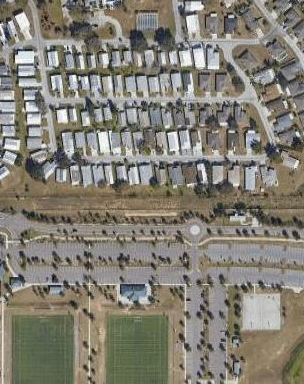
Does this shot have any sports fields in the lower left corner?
Yes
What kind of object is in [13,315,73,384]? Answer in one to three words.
sports field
